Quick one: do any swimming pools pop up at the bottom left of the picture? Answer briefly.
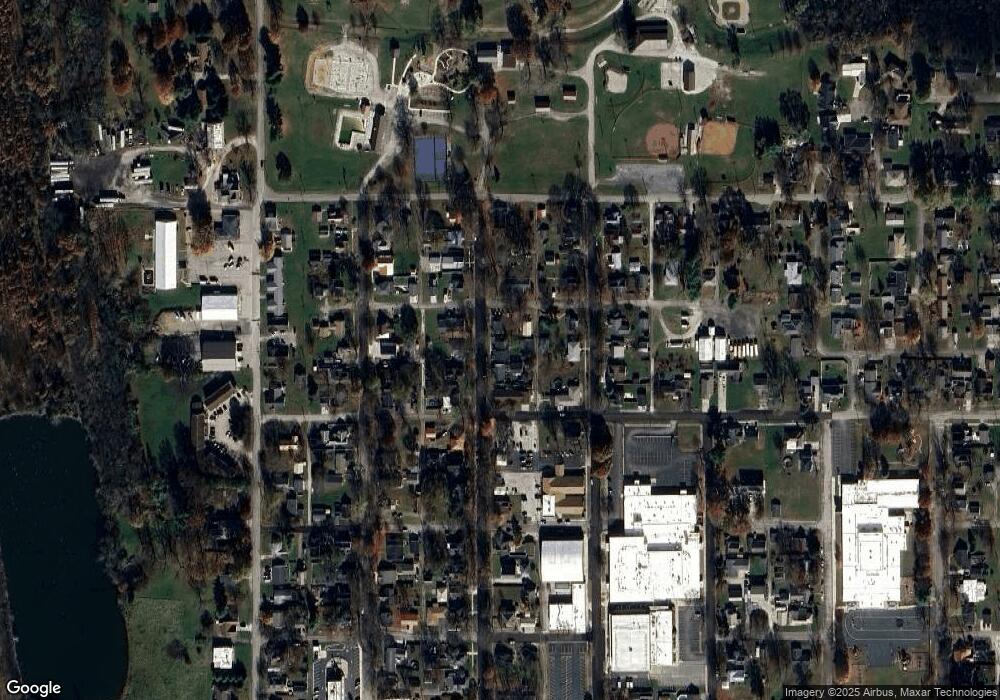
No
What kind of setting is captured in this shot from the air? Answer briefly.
residential area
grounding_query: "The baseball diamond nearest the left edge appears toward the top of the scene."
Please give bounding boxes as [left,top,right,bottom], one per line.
[646,122,682,159]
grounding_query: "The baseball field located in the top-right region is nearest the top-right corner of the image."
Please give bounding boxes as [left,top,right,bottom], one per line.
[717,0,749,25]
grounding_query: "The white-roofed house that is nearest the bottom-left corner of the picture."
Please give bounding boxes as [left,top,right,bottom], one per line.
[213,647,232,669]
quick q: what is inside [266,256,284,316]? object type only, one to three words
building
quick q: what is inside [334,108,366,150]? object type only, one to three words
swimming pool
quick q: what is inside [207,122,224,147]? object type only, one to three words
barn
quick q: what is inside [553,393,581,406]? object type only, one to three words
house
